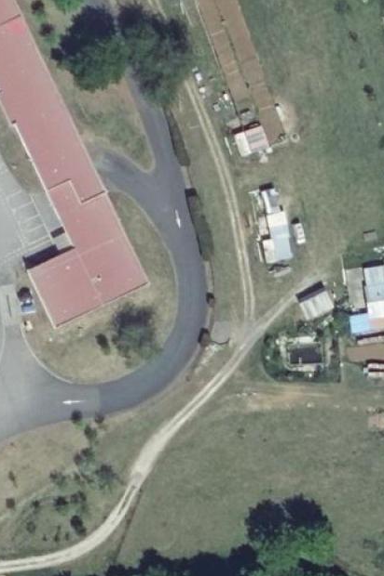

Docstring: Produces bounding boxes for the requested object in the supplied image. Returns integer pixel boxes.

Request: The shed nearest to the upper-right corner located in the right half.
[234,127,270,157]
